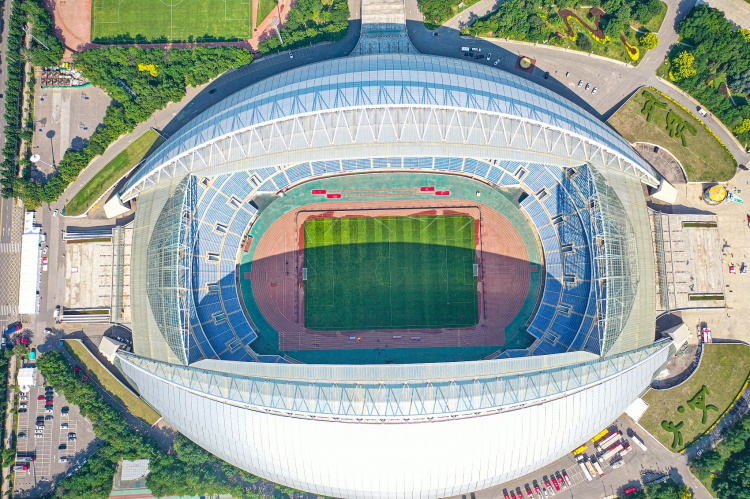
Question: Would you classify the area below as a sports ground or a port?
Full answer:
This image shows a sports ground.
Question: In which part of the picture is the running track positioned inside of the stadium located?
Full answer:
You can find the running track positioned inside of the stadium in the center area of the picture.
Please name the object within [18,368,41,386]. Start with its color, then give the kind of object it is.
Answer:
white tent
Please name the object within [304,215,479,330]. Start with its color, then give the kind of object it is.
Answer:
green soccer field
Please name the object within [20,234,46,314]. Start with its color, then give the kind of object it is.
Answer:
white tent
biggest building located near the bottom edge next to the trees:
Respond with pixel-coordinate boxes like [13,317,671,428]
[122,459,152,480]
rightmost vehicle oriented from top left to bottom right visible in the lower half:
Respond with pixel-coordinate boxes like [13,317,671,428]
[632,437,650,452]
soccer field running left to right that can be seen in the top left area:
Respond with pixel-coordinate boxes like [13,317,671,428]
[89,0,252,42]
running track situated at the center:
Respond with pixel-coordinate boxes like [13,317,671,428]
[237,171,544,365]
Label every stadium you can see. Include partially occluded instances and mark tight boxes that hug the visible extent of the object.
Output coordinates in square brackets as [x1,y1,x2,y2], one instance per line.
[99,51,691,499]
